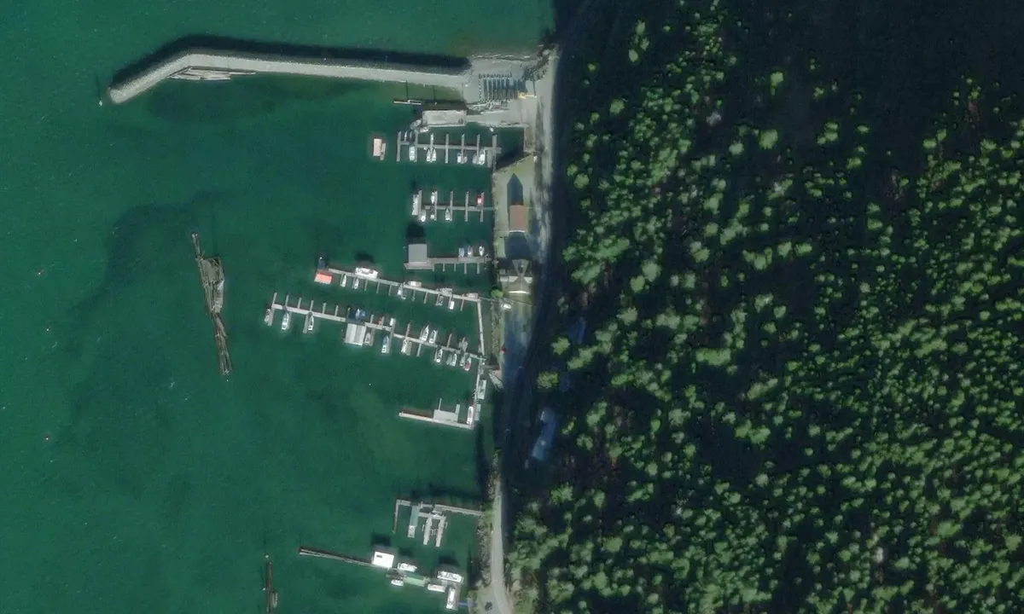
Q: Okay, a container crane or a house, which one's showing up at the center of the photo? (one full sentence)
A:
You can see a house at the center of the photo.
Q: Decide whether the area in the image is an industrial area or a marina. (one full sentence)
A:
The area seen from above is a marina.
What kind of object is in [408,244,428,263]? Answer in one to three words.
building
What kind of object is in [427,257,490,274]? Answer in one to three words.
pier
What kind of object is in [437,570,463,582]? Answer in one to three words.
boat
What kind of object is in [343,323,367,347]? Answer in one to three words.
building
